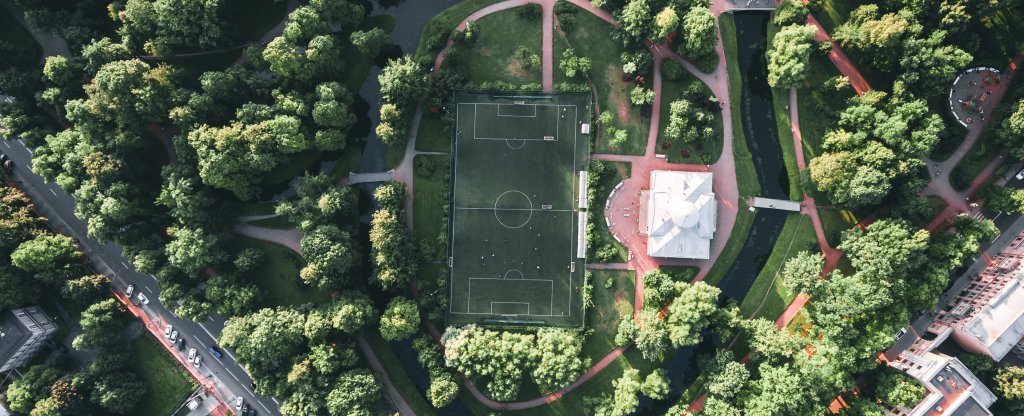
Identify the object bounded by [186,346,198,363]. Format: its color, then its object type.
white vehicle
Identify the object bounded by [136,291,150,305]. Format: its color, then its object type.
white car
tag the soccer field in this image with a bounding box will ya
[446,91,592,327]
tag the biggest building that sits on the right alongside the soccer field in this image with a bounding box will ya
[632,168,717,261]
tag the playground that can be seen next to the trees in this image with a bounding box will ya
[950,69,1004,124]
